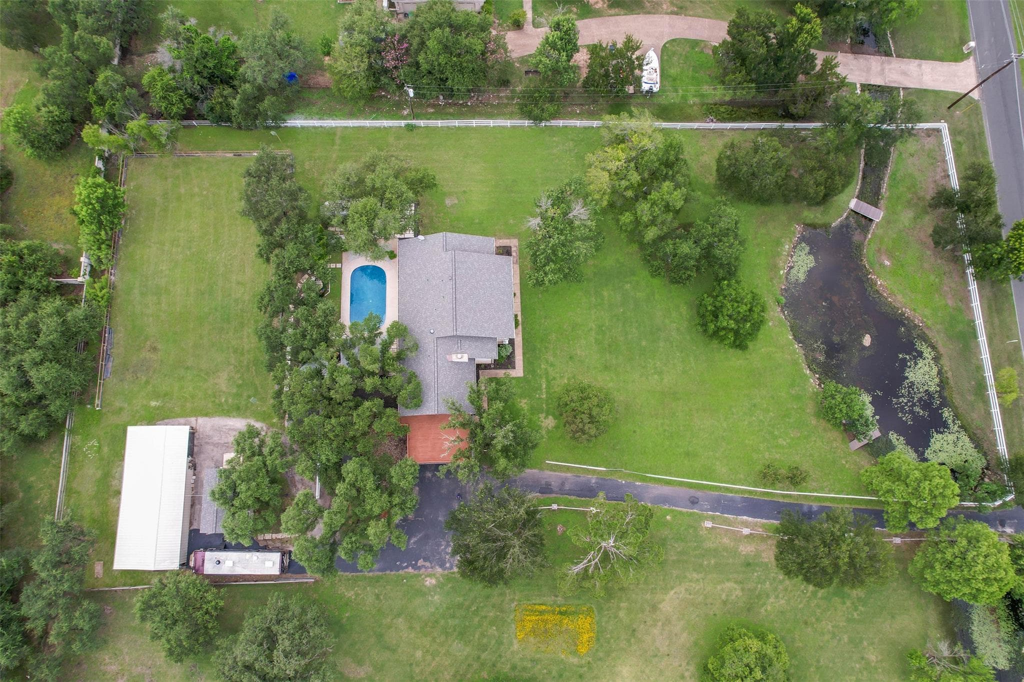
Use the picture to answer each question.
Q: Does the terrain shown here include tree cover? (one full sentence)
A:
Yes, tree cover can be seen from above here.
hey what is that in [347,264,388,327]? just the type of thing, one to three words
swimming pool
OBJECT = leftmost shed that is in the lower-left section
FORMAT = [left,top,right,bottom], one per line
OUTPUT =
[115,425,200,571]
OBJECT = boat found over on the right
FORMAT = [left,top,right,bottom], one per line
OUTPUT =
[643,46,662,95]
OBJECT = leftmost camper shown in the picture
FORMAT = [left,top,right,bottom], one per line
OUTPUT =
[192,546,295,576]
